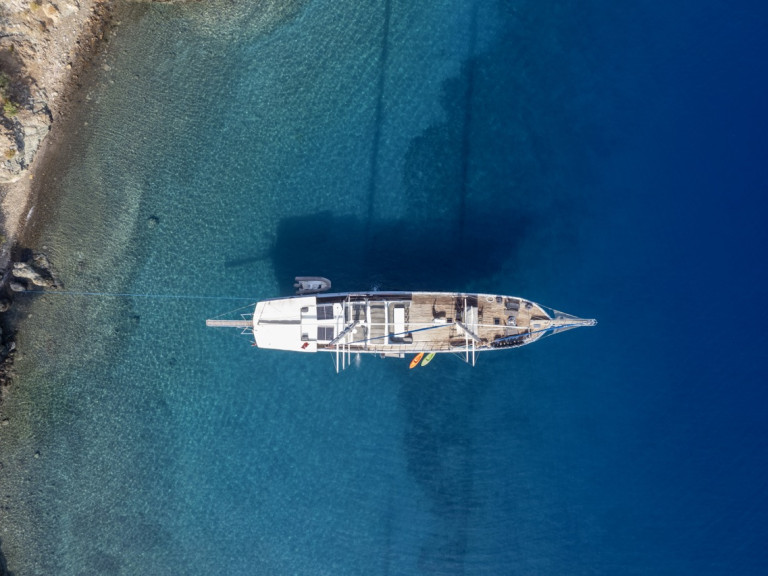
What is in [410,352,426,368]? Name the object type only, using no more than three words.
boat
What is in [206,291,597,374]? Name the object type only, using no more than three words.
boat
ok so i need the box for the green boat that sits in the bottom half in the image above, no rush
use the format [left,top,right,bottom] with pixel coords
[421,352,437,366]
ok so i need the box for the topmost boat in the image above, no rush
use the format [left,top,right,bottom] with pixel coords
[292,277,344,293]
